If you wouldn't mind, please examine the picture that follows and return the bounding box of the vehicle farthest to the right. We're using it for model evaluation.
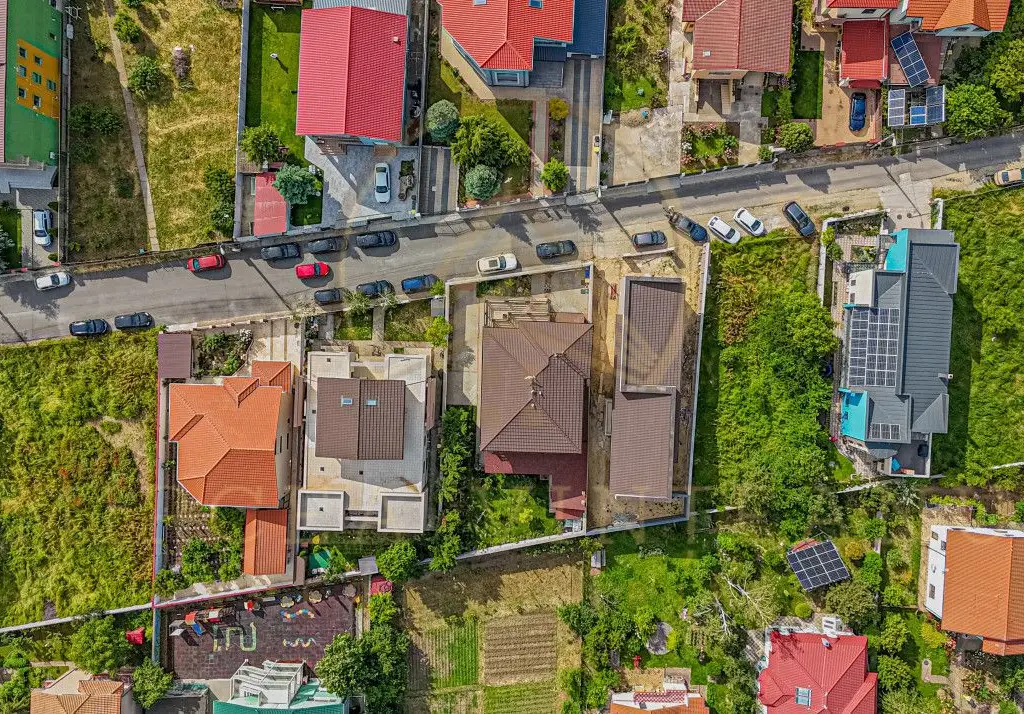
[989,168,1024,188]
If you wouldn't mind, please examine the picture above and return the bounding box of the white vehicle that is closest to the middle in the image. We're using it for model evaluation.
[478,253,516,274]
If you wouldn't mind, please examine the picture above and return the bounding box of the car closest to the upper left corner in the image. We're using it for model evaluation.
[31,209,55,246]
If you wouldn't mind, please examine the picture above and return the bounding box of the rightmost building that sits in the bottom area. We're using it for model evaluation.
[927,524,1024,656]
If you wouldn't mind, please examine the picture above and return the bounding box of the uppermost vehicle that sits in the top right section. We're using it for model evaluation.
[847,94,868,132]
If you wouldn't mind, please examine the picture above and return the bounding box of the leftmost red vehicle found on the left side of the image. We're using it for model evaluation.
[189,255,225,272]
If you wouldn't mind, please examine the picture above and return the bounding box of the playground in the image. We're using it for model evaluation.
[170,586,356,684]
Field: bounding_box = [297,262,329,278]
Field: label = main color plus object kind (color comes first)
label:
red car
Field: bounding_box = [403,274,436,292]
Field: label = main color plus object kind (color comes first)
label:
blue car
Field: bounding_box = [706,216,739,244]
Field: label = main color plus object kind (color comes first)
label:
white car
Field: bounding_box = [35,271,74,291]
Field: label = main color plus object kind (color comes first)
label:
white car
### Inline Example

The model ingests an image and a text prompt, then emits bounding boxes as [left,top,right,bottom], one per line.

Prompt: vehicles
[116,312,153,329]
[357,230,396,249]
[847,94,868,132]
[314,289,344,304]
[668,205,710,244]
[732,206,764,237]
[357,279,395,298]
[263,242,301,261]
[632,231,665,248]
[782,200,816,238]
[373,164,391,202]
[189,255,225,272]
[403,274,436,292]
[297,262,329,278]
[706,216,739,244]
[478,253,516,274]
[70,318,110,336]
[31,209,55,246]
[304,235,342,255]
[989,168,1024,188]
[536,239,576,259]
[35,271,74,291]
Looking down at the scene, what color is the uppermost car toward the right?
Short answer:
blue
